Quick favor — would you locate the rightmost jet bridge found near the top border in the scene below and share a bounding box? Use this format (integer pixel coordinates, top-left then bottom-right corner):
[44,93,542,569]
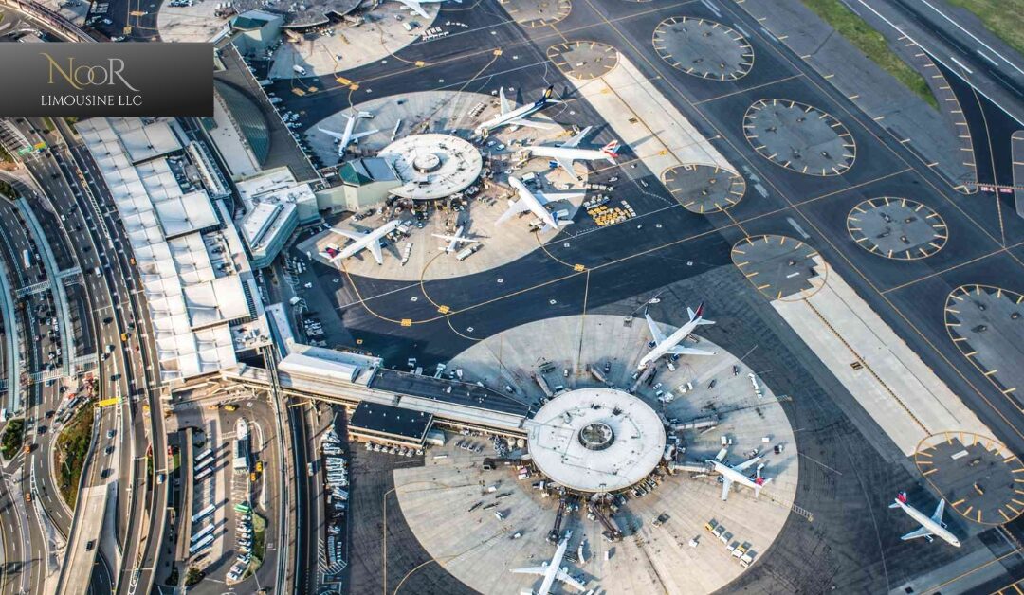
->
[344,13,363,27]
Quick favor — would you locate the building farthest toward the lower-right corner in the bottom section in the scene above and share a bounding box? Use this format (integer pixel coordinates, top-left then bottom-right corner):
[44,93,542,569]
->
[522,388,665,497]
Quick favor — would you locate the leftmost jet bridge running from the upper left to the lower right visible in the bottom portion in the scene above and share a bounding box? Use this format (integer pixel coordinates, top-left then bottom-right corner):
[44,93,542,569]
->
[529,372,557,399]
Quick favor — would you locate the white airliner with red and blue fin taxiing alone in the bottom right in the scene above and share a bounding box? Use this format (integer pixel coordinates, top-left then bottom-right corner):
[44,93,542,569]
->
[886,489,961,548]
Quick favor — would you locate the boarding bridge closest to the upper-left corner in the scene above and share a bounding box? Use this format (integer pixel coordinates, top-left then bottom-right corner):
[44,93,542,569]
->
[283,28,302,45]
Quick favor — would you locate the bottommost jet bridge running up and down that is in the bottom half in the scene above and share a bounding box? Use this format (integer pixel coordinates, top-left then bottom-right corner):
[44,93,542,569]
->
[551,486,567,542]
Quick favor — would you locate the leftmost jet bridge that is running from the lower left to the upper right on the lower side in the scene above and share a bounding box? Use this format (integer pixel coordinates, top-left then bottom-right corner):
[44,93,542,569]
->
[628,362,656,397]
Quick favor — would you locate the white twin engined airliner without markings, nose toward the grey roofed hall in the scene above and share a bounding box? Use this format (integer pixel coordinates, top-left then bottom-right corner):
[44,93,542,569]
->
[318,102,379,156]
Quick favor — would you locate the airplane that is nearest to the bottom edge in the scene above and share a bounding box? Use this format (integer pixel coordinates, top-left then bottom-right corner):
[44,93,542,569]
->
[515,531,589,595]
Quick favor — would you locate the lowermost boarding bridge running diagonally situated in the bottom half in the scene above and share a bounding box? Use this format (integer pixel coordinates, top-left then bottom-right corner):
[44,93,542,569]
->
[588,497,621,541]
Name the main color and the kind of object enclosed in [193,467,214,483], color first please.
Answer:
white vehicle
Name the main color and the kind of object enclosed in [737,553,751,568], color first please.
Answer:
white vehicle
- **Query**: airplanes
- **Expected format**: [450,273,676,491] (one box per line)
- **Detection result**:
[317,219,400,265]
[433,229,477,253]
[886,489,961,548]
[495,174,582,230]
[639,302,722,368]
[707,459,774,502]
[515,531,589,595]
[476,80,564,134]
[318,102,379,156]
[523,124,626,177]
